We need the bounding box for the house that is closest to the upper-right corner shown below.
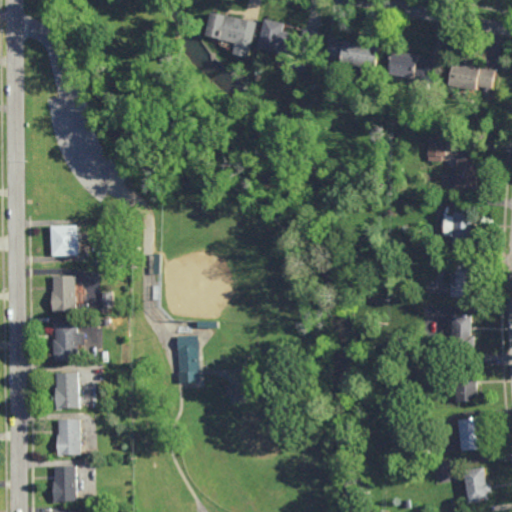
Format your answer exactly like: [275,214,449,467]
[448,66,500,89]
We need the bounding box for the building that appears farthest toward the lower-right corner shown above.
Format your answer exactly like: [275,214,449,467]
[464,467,494,500]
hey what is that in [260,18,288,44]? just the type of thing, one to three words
house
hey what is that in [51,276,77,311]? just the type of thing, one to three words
house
